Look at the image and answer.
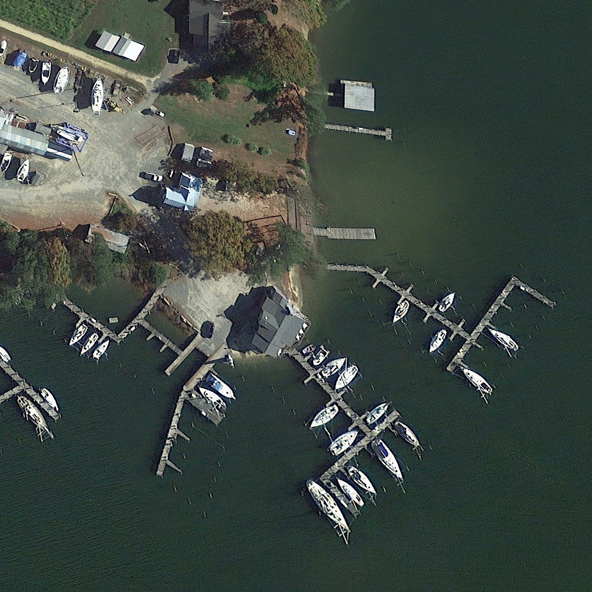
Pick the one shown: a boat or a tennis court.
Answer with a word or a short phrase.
boat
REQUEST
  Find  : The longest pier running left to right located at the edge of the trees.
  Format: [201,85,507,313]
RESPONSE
[325,261,556,371]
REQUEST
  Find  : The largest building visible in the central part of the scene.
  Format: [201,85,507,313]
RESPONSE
[250,286,310,358]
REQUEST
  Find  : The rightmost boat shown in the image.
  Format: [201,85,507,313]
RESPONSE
[489,329,520,360]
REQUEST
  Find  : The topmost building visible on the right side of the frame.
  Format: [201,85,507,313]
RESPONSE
[339,77,375,111]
